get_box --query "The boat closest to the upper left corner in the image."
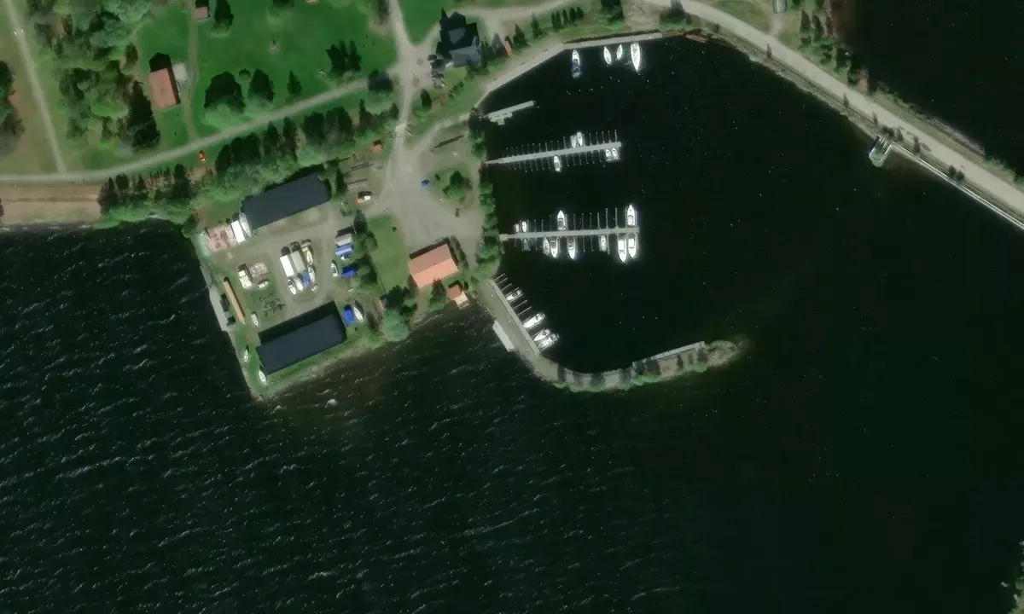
[238,213,250,236]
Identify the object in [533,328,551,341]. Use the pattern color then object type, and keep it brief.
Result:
white boat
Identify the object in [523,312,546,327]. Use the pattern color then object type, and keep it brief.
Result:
white boat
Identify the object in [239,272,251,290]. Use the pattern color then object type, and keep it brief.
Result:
white vehicle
